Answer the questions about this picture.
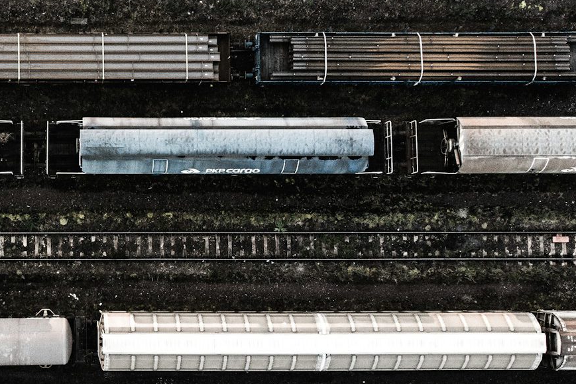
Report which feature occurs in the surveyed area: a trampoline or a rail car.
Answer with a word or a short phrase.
rail car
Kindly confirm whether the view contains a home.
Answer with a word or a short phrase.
No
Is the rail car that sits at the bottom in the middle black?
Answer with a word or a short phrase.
No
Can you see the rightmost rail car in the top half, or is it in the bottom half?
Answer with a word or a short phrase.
bottom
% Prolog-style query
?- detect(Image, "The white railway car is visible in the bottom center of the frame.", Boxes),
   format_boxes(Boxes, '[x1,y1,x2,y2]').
[83,307,548,374]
